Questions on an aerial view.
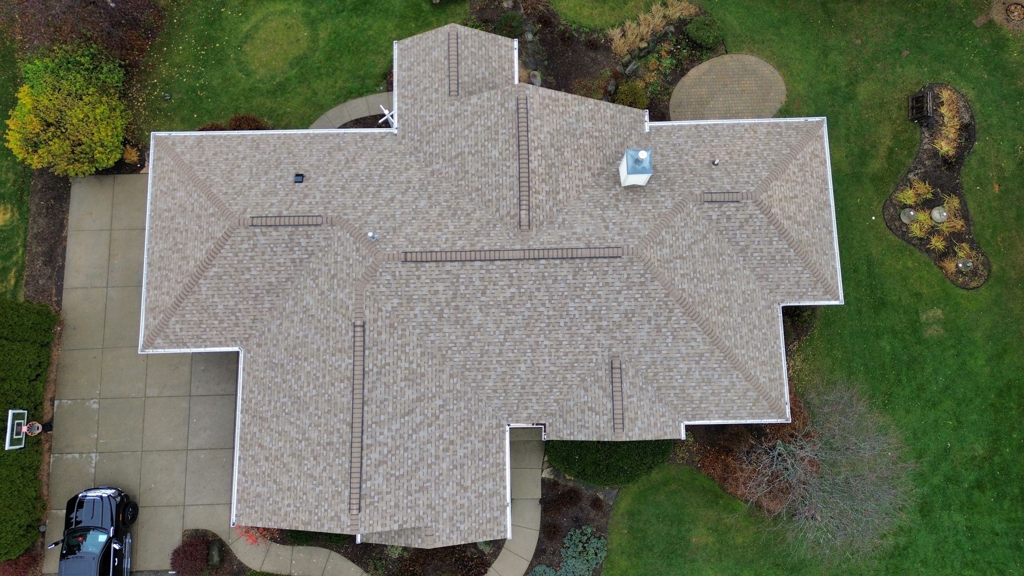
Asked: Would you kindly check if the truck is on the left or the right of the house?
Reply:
left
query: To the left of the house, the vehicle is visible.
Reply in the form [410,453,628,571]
[45,485,137,576]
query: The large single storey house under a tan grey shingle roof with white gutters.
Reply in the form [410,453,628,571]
[138,23,844,548]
